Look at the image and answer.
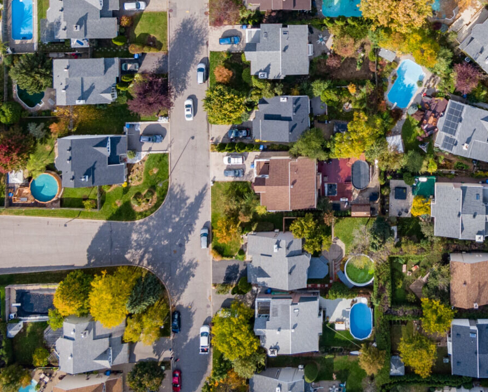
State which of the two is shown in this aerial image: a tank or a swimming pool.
swimming pool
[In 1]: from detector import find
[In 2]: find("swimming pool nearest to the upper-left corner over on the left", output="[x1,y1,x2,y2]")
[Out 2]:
[9,0,35,41]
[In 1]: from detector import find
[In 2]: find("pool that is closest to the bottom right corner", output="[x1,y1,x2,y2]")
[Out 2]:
[348,300,374,342]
